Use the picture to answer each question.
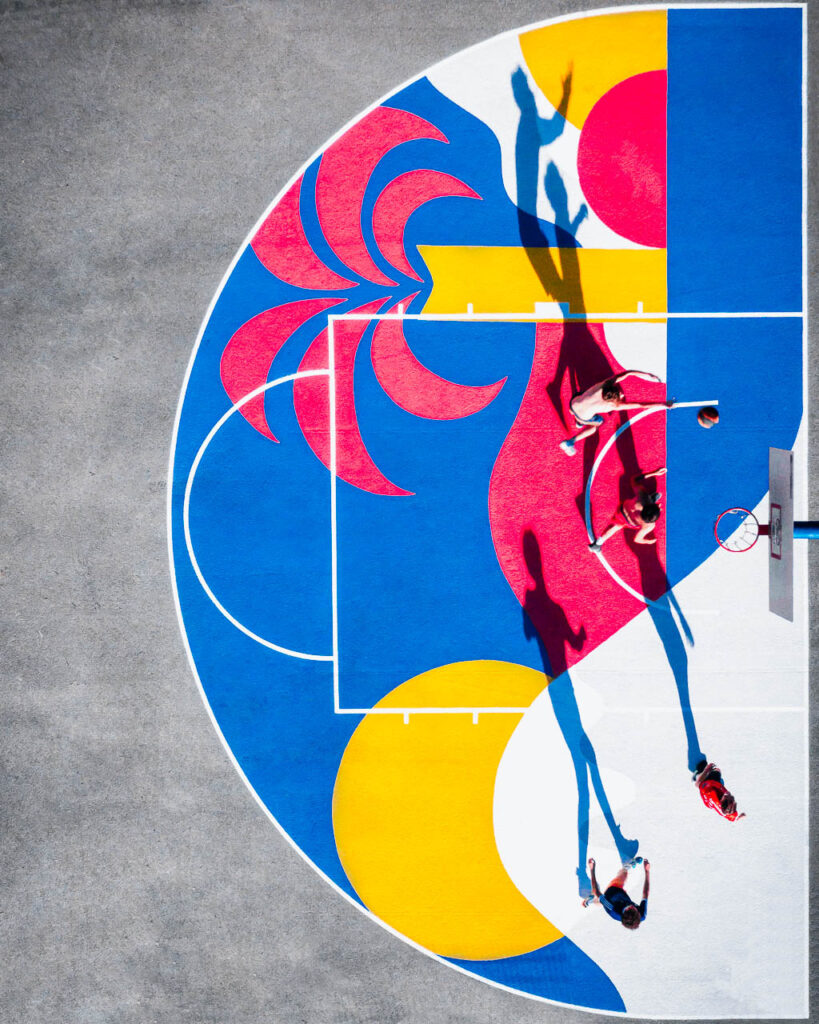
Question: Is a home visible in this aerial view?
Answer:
No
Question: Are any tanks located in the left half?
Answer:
No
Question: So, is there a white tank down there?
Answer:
No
